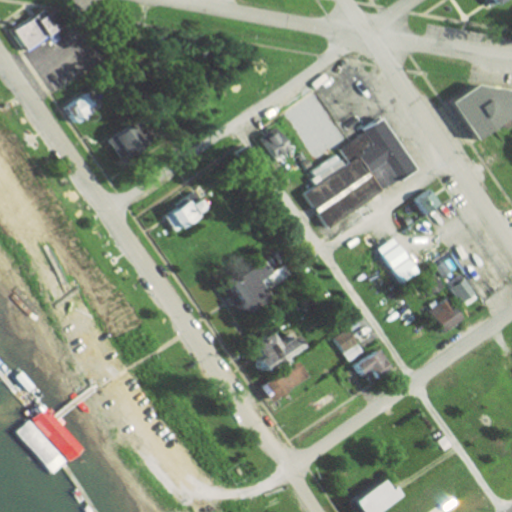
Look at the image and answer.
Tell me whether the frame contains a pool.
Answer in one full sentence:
No, the frame has no pool in it.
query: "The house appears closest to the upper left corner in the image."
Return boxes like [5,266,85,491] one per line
[16,16,60,52]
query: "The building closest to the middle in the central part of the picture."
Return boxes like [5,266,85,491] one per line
[236,268,291,306]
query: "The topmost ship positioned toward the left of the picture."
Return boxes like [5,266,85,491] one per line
[10,294,36,319]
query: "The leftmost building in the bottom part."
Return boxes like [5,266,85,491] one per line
[16,408,86,474]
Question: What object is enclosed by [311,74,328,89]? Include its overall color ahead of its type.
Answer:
white vehicle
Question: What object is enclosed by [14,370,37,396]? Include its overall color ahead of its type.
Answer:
white boat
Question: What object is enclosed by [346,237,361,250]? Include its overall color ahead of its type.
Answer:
white vehicle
